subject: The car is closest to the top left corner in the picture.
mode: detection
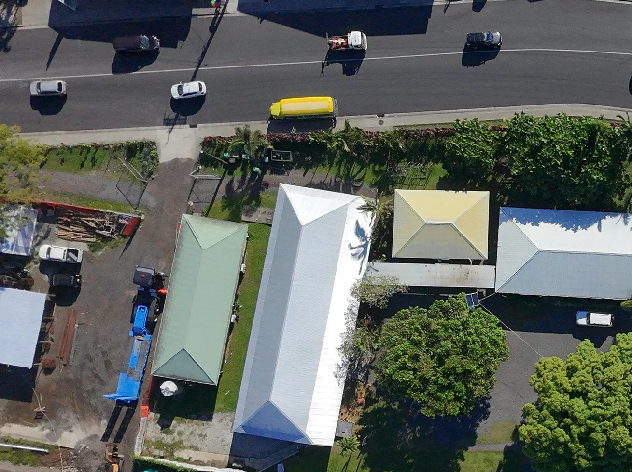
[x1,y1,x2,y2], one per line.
[32,80,68,98]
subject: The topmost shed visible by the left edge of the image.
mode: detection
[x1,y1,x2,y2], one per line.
[0,201,48,255]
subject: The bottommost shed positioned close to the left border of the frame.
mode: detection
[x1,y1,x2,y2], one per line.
[0,287,61,370]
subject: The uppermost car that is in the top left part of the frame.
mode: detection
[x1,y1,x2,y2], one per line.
[113,34,162,54]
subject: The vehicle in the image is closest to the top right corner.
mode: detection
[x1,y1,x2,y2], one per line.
[467,31,503,49]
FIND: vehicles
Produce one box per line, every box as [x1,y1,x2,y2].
[467,31,503,49]
[324,31,368,52]
[32,80,68,98]
[172,81,208,101]
[40,246,84,265]
[46,272,91,290]
[270,97,343,122]
[98,266,160,400]
[113,34,162,54]
[577,311,613,328]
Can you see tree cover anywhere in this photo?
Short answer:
Yes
